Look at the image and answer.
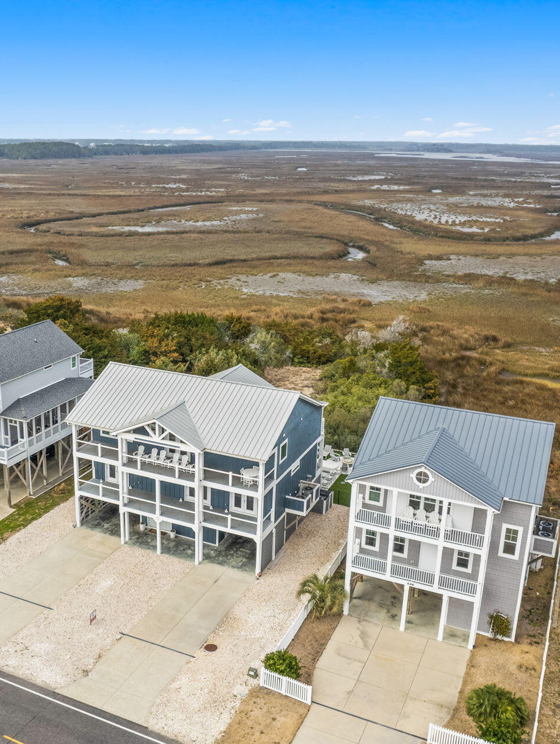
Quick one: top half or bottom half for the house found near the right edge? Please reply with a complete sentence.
The house found near the right edge is in the bottom half of the image.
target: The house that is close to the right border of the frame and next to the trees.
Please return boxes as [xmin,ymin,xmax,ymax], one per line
[344,395,560,649]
